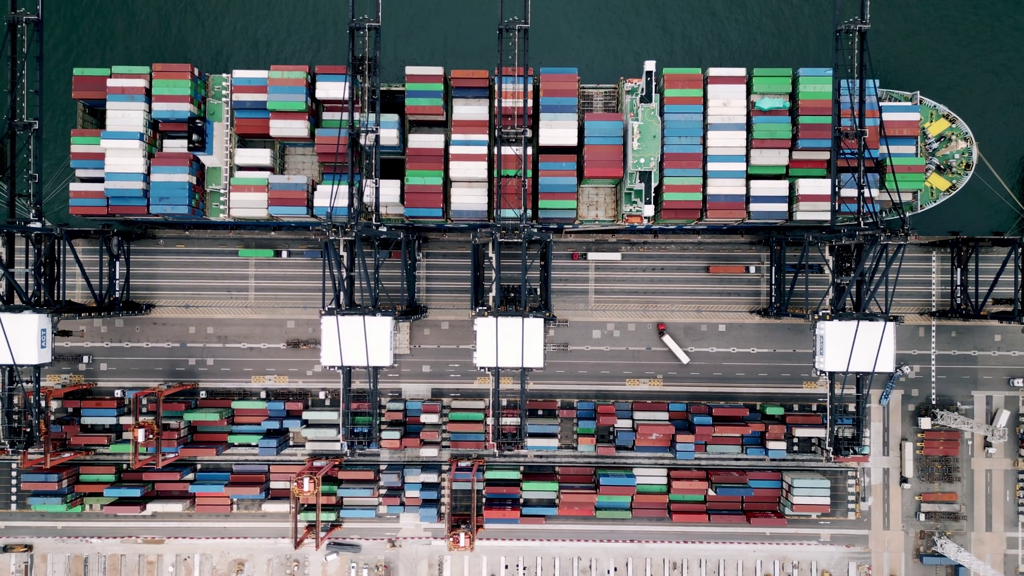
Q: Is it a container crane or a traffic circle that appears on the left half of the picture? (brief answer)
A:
container crane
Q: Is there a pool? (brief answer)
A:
No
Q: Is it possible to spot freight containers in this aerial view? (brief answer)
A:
Yes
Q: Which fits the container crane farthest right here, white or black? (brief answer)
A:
black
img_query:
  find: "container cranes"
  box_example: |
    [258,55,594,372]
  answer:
[19,379,96,468]
[750,0,917,469]
[289,457,343,552]
[130,380,197,469]
[920,223,1024,318]
[468,0,552,466]
[319,0,429,464]
[0,0,149,461]
[445,458,486,554]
